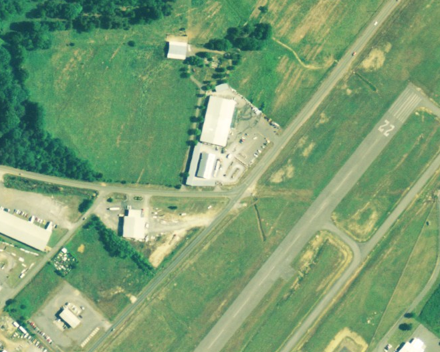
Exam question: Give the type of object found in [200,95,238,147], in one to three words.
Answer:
building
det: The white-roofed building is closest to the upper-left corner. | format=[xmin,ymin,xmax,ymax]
[167,41,187,60]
